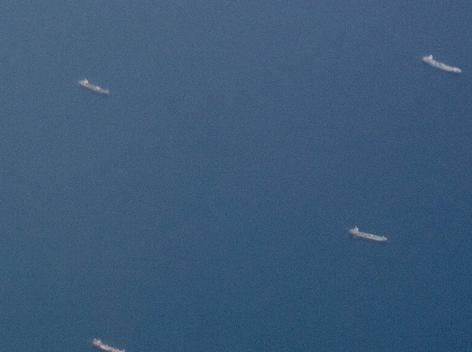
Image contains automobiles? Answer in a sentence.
No, the picture doesn't show any automobile.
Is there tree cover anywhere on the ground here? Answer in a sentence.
No, there is no tree cover in the image.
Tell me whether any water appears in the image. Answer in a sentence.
Yes, water shows up in the scene.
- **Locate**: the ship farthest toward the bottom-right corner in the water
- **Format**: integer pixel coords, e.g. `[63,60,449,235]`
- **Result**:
[349,228,387,241]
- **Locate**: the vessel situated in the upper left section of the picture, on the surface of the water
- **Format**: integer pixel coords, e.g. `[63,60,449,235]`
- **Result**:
[77,79,109,94]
